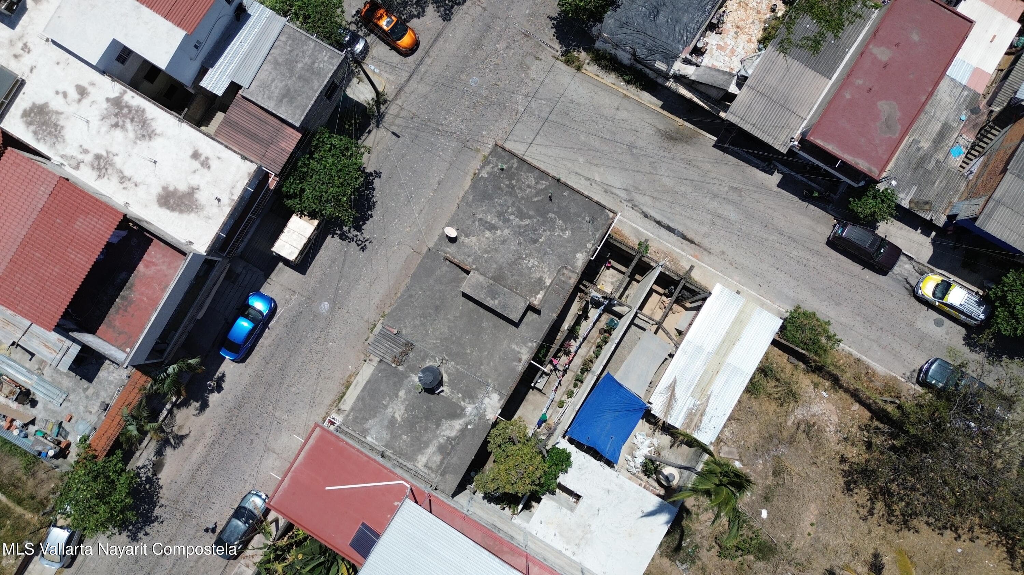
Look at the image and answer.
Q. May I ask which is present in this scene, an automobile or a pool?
automobile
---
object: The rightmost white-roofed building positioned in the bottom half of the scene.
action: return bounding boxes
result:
[647,284,782,443]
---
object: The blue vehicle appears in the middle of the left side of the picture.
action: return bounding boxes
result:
[221,290,276,363]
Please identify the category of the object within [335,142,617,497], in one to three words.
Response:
building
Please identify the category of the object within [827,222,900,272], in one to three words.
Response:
car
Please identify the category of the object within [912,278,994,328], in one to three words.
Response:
car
